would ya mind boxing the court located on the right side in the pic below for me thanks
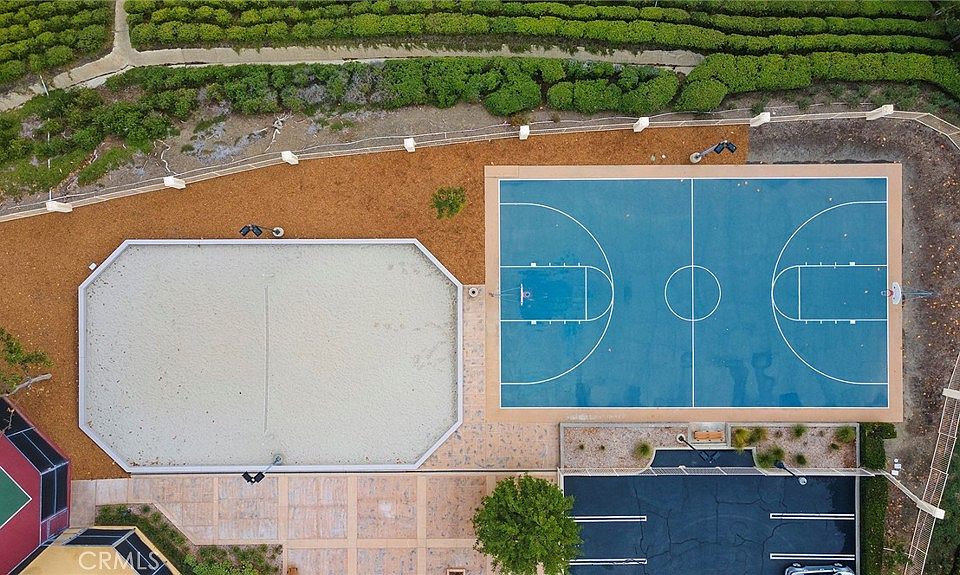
[485,163,904,423]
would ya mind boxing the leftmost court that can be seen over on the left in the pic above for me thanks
[0,397,71,575]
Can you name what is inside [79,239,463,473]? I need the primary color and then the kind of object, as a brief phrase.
white sports court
